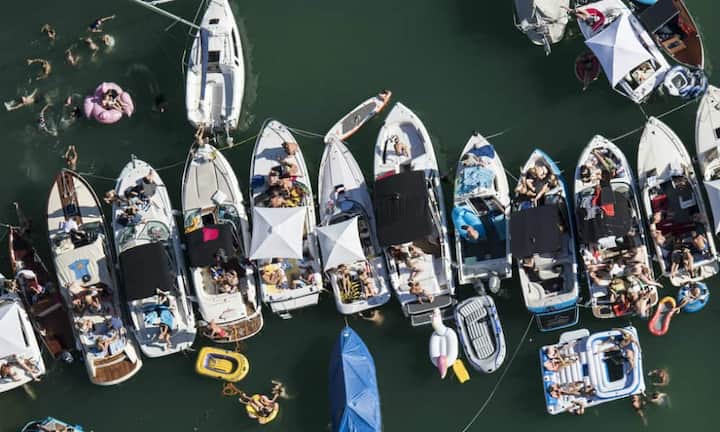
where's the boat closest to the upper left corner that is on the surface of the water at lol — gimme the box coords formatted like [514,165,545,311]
[124,0,247,144]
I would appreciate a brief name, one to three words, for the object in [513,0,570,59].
boat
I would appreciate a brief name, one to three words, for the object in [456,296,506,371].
boat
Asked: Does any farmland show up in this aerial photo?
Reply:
No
